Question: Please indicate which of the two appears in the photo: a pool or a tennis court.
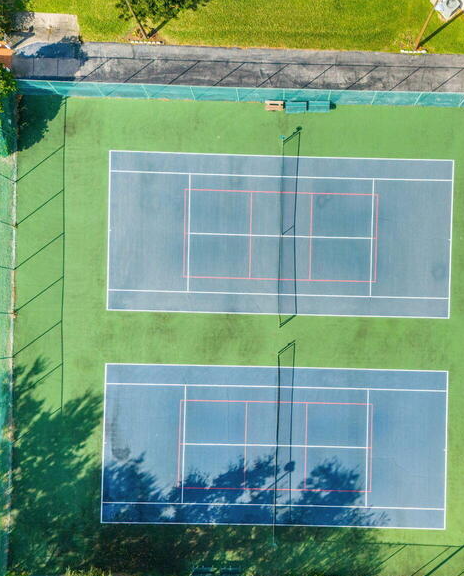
tennis court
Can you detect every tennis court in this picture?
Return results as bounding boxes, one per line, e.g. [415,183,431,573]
[102,364,447,528]
[107,151,453,318]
